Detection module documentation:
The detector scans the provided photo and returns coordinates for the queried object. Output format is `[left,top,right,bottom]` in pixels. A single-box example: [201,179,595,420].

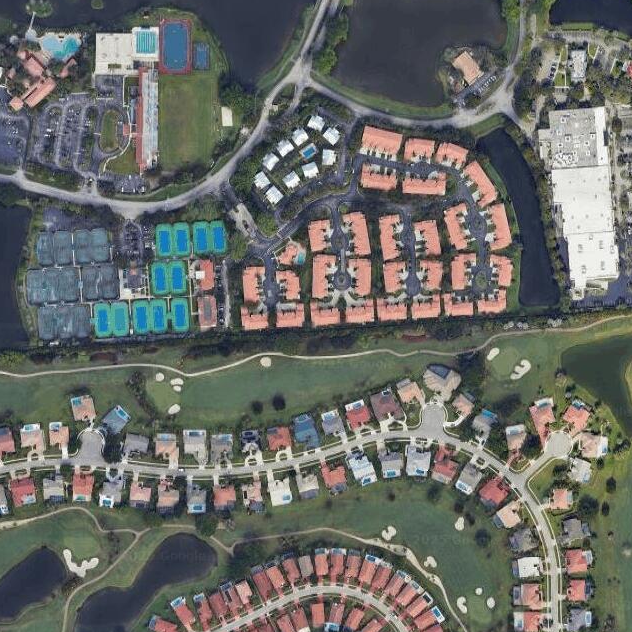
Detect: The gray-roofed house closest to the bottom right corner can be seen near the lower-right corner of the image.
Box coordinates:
[567,610,587,631]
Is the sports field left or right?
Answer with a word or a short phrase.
left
